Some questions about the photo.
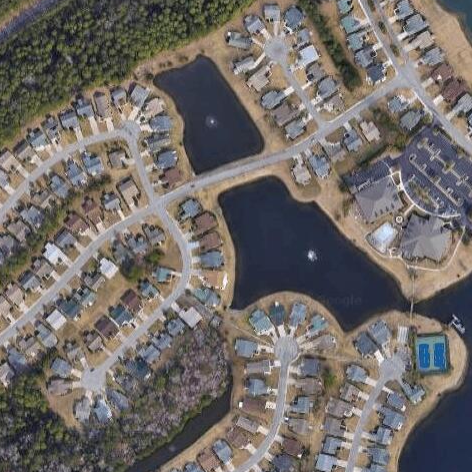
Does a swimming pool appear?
Yes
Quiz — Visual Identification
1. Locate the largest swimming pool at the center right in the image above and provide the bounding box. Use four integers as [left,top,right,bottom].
[367,220,400,253]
